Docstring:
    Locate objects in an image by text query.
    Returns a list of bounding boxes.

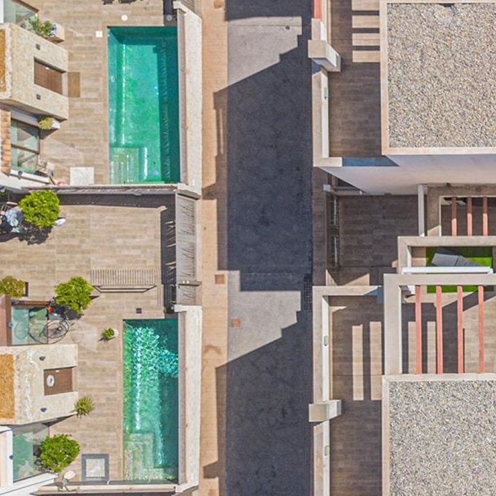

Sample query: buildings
[0,299,77,487]
[307,0,496,191]
[307,238,496,496]
[0,0,68,176]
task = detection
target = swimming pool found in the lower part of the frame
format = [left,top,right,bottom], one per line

[120,316,177,478]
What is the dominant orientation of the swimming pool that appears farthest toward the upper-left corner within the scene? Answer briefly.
up and down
